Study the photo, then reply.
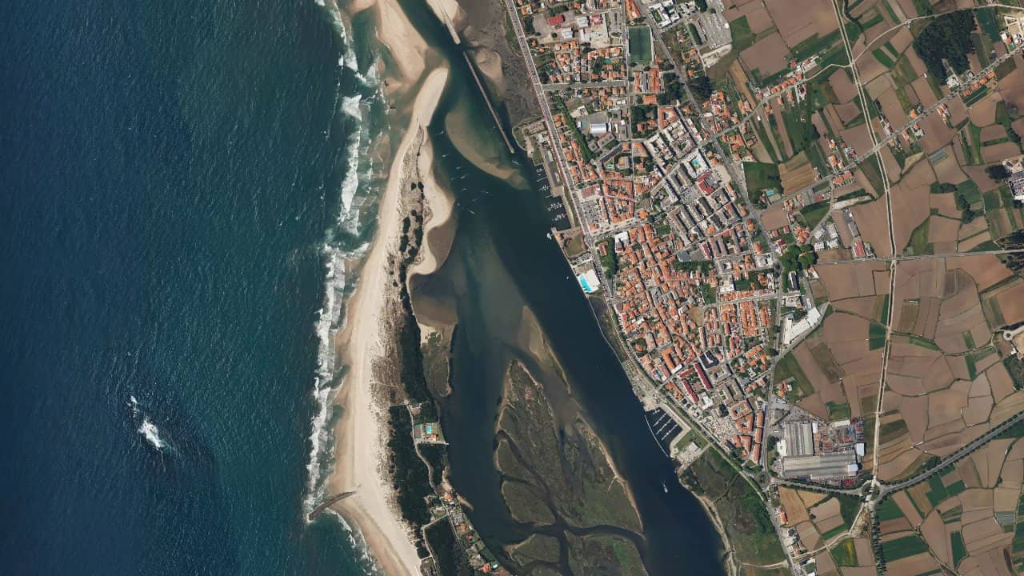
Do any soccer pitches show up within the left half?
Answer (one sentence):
No, no soccer pitch can be made out within the left half.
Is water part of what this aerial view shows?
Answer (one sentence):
Yes, there is water in the image.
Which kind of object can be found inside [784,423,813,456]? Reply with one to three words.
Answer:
building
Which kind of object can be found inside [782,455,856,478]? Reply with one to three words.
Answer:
building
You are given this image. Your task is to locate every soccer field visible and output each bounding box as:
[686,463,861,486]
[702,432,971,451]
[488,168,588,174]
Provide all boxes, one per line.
[628,26,652,62]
